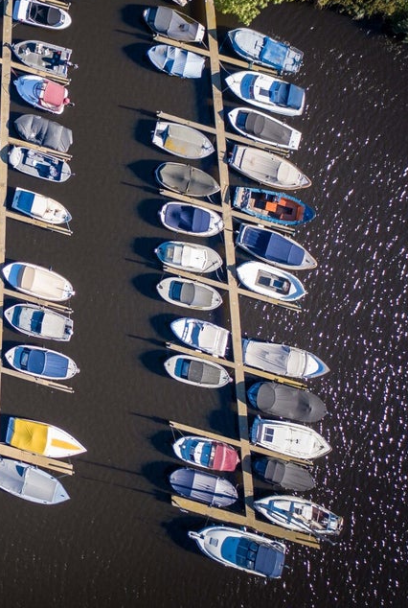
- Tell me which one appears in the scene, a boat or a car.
boat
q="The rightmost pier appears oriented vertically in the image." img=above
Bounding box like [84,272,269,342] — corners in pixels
[148,0,326,553]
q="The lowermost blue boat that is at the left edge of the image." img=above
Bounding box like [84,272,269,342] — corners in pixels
[1,344,78,384]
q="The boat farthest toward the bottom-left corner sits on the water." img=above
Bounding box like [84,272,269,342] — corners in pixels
[0,456,71,505]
